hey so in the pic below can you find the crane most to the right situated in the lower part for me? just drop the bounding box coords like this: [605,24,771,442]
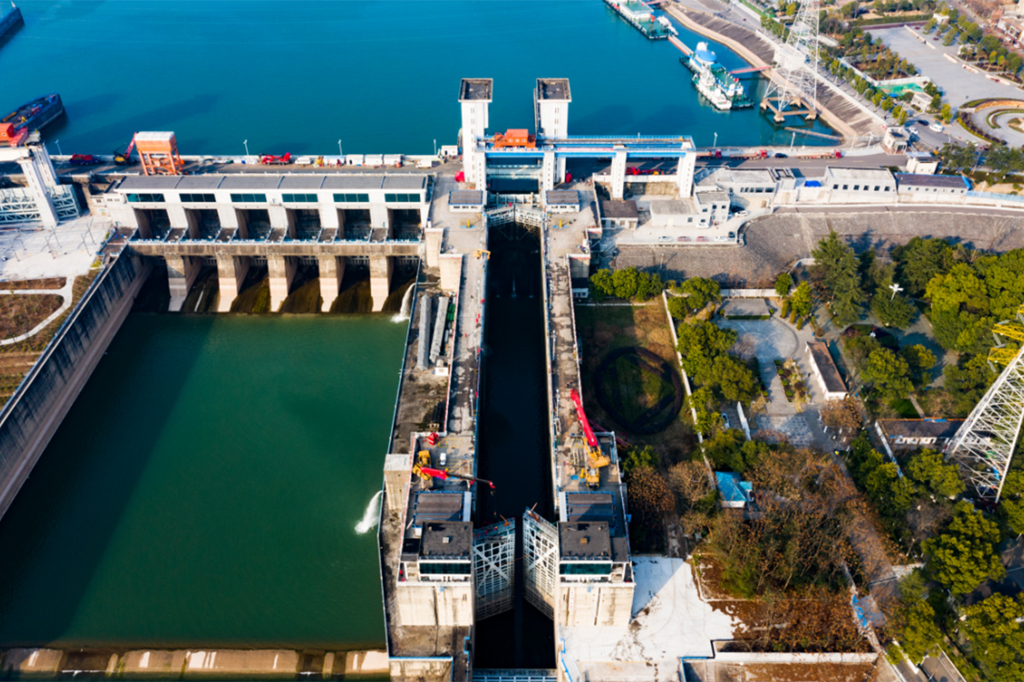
[572,387,609,482]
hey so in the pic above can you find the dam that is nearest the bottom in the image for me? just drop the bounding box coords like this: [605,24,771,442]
[0,645,390,673]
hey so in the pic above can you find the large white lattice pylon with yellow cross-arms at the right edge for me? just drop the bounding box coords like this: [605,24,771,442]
[943,309,1024,505]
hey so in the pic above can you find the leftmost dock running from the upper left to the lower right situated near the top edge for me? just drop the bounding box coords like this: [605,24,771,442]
[598,0,671,43]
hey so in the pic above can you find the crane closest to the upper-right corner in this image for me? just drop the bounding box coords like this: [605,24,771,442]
[492,124,535,151]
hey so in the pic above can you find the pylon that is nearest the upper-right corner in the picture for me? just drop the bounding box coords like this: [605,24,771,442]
[759,0,817,125]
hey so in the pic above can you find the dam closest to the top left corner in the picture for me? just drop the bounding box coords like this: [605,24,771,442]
[102,172,436,313]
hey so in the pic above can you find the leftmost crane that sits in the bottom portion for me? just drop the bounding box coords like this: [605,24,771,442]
[407,442,493,494]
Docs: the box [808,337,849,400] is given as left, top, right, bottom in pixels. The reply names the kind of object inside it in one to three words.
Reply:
building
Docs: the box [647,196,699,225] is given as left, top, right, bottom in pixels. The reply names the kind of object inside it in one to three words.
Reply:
shed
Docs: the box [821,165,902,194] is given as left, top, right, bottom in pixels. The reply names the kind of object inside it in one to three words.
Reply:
building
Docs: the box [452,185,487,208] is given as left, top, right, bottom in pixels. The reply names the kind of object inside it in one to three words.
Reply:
house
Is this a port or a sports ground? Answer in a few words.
port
